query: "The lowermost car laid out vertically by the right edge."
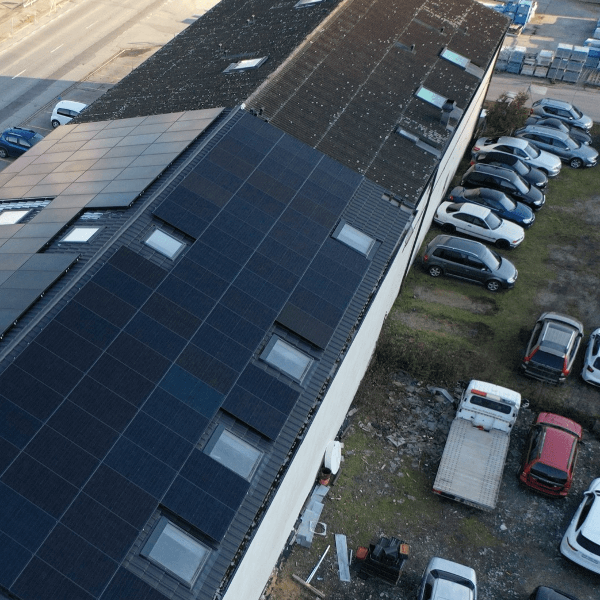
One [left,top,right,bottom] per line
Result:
[555,478,600,583]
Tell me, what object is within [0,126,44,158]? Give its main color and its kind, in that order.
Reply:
blue car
